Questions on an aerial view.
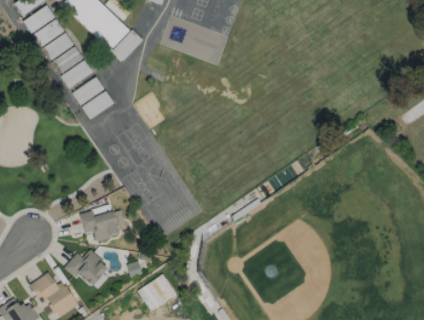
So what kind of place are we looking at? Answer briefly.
sports ground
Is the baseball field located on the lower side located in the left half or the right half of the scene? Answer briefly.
right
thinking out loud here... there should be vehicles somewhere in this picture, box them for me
[26,213,40,219]
[0,293,6,304]
[1,288,10,300]
[70,220,82,225]
[62,246,73,257]
[54,220,65,226]
[60,224,72,229]
[170,300,182,310]
[58,252,70,262]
